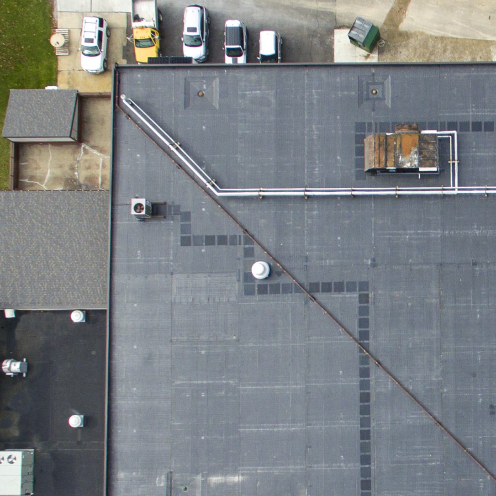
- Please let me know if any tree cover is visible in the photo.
No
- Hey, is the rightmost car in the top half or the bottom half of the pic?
top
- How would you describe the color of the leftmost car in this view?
white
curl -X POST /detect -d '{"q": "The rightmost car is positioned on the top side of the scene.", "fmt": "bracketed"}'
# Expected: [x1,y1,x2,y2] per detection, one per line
[258,30,286,63]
